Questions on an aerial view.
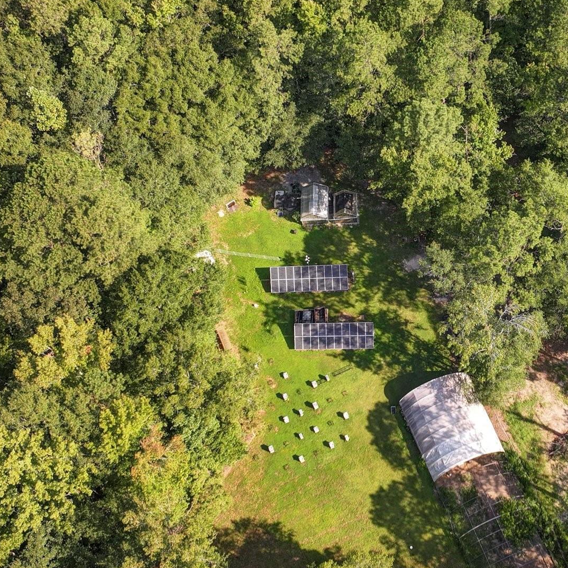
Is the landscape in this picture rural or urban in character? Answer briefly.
rural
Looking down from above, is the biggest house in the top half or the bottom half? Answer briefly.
bottom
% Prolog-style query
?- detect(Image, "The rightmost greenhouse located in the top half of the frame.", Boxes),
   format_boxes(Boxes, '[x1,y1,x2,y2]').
[329,189,359,224]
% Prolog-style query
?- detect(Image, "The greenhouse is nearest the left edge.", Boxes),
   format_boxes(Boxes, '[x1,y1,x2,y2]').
[300,183,330,226]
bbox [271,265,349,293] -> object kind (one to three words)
solar array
